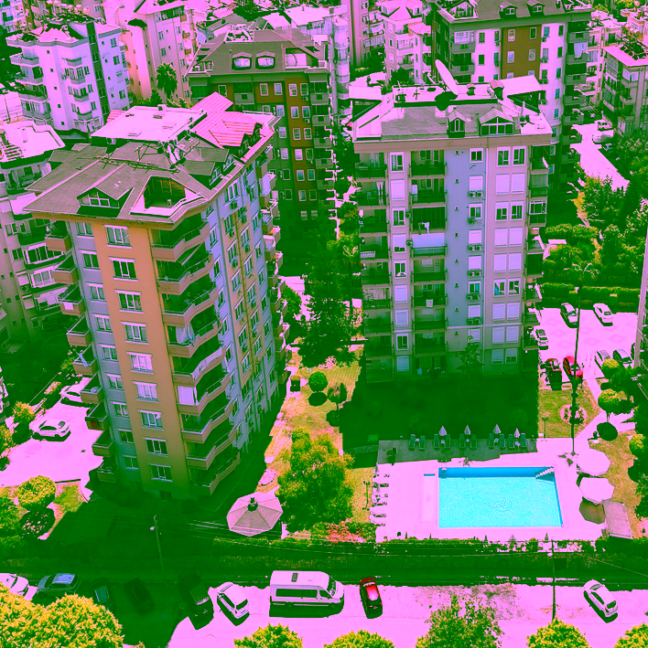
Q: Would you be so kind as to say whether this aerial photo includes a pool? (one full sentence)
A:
Yes, a pool appears in the view.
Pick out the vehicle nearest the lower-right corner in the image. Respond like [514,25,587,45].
[583,581,621,617]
